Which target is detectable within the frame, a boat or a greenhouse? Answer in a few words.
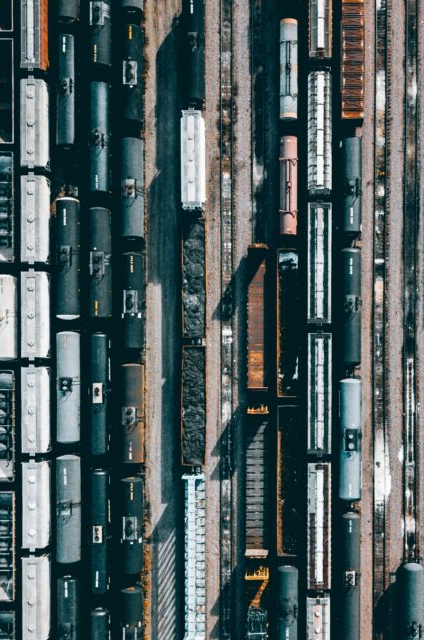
boat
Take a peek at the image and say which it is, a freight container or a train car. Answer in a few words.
train car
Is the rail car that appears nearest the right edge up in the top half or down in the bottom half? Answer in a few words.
bottom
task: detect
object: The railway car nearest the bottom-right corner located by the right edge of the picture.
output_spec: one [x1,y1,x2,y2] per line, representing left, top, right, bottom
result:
[396,547,423,640]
